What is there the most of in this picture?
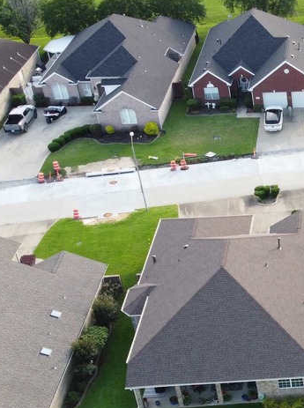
buildings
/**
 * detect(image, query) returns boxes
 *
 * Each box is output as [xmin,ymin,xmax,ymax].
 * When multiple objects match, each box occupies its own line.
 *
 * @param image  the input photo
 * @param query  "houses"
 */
[0,22,46,118]
[0,235,110,408]
[186,12,304,114]
[35,11,196,135]
[113,215,304,408]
